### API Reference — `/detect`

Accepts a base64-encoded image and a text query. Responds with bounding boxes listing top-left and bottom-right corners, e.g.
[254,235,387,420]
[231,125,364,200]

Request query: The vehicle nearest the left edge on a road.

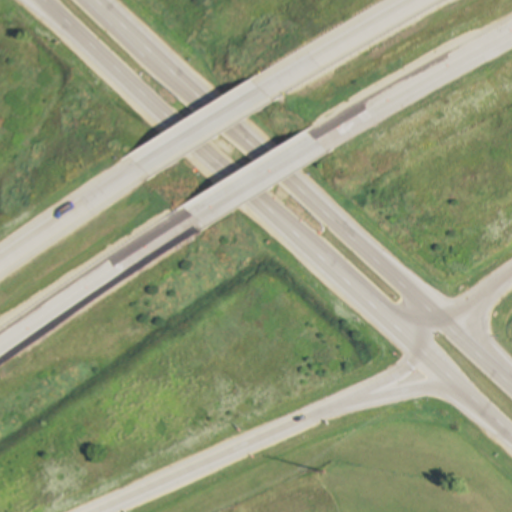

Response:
[54,201,74,217]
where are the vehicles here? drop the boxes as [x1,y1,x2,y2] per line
[293,414,306,422]
[54,201,74,217]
